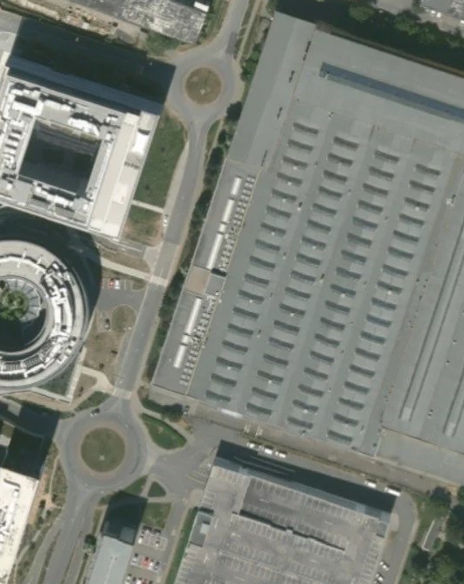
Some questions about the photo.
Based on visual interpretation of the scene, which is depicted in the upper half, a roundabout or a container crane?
roundabout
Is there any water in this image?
No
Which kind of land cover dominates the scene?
buildings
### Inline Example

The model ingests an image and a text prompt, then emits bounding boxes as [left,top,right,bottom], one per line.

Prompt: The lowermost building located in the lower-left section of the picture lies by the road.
[84,518,139,584]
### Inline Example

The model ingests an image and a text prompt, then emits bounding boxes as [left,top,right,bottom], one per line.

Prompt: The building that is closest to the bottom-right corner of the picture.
[176,460,391,584]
